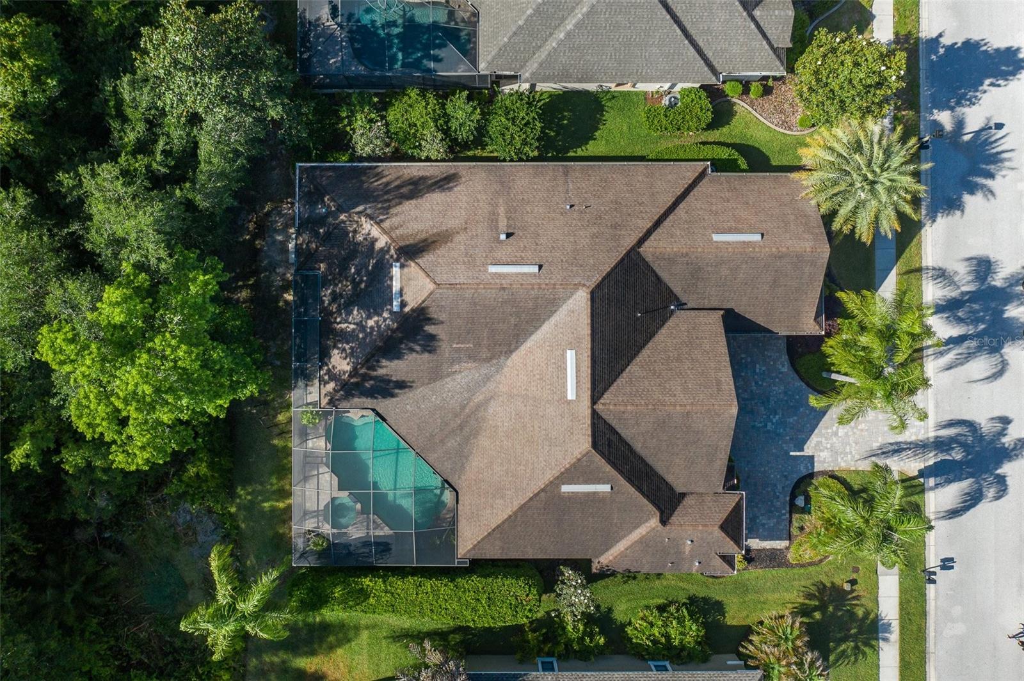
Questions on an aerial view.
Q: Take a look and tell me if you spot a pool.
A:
Yes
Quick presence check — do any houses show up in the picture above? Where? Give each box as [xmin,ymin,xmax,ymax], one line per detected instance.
[463,657,763,681]
[479,0,799,91]
[293,161,833,575]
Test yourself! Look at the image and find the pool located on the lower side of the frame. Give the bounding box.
[322,414,450,533]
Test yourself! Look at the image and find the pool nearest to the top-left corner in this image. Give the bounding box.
[326,0,474,71]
